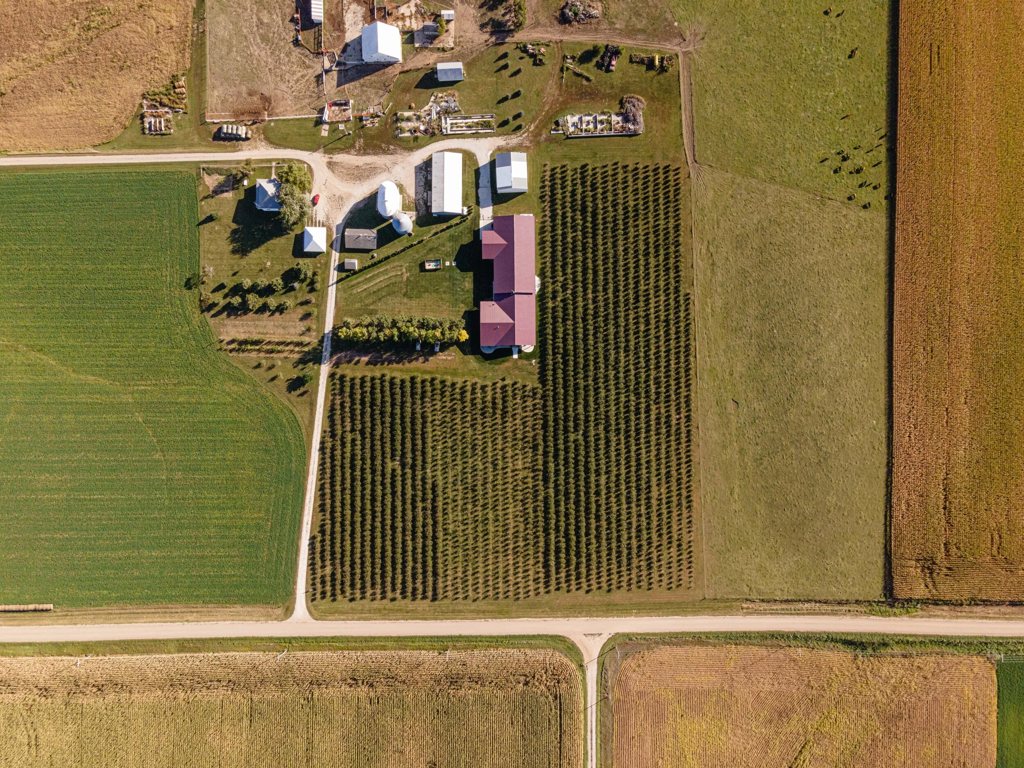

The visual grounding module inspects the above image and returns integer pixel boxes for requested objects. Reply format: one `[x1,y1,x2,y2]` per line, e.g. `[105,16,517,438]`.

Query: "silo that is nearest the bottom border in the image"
[392,212,414,235]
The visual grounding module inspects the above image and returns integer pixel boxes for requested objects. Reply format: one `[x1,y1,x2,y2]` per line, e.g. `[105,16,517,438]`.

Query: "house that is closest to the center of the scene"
[480,215,536,346]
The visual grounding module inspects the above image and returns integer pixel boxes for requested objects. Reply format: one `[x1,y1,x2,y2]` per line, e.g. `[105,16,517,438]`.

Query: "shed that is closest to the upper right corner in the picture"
[496,150,528,193]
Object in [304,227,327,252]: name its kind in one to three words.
building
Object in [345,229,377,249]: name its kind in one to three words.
shed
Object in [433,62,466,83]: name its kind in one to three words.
shed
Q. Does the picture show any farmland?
Yes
